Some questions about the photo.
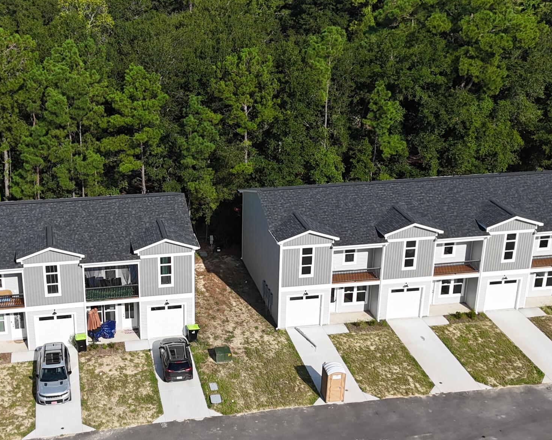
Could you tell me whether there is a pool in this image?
No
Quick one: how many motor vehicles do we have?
two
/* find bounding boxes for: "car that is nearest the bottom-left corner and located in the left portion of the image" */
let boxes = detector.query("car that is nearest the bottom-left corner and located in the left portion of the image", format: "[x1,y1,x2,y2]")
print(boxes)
[35,346,74,406]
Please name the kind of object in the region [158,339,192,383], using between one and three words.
car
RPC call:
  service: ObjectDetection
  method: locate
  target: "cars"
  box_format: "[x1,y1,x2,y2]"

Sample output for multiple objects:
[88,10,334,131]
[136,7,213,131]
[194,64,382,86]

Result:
[158,339,192,383]
[35,346,74,406]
